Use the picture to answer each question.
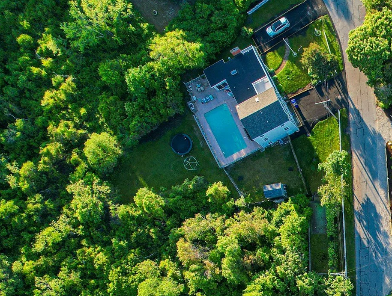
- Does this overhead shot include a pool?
Yes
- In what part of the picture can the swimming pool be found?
center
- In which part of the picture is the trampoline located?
center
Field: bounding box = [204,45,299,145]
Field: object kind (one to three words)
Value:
building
